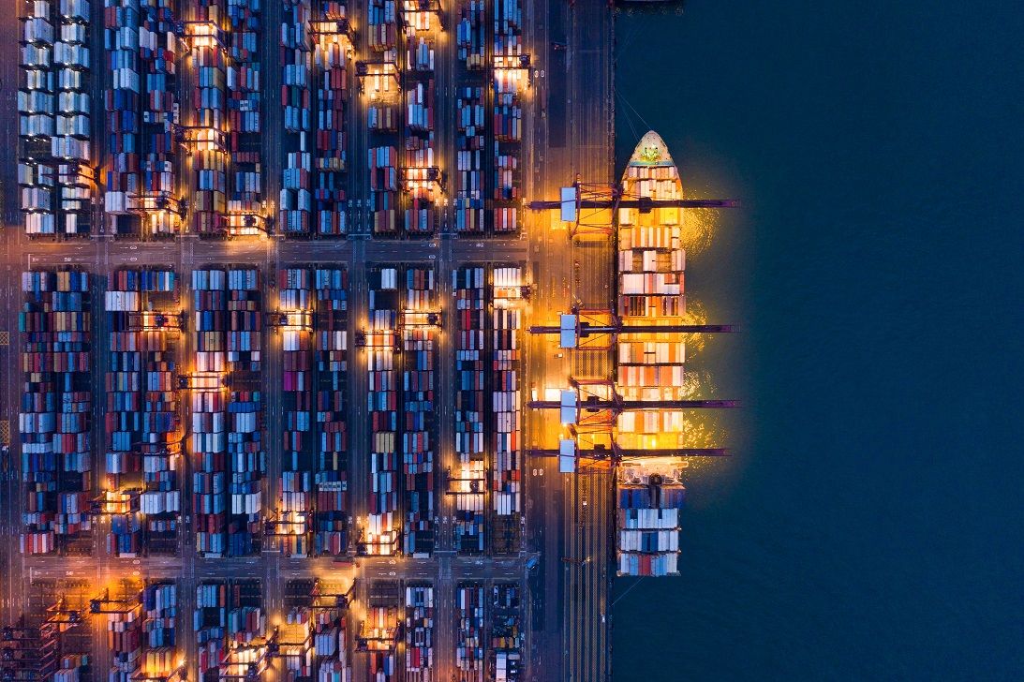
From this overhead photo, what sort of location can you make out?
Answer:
port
